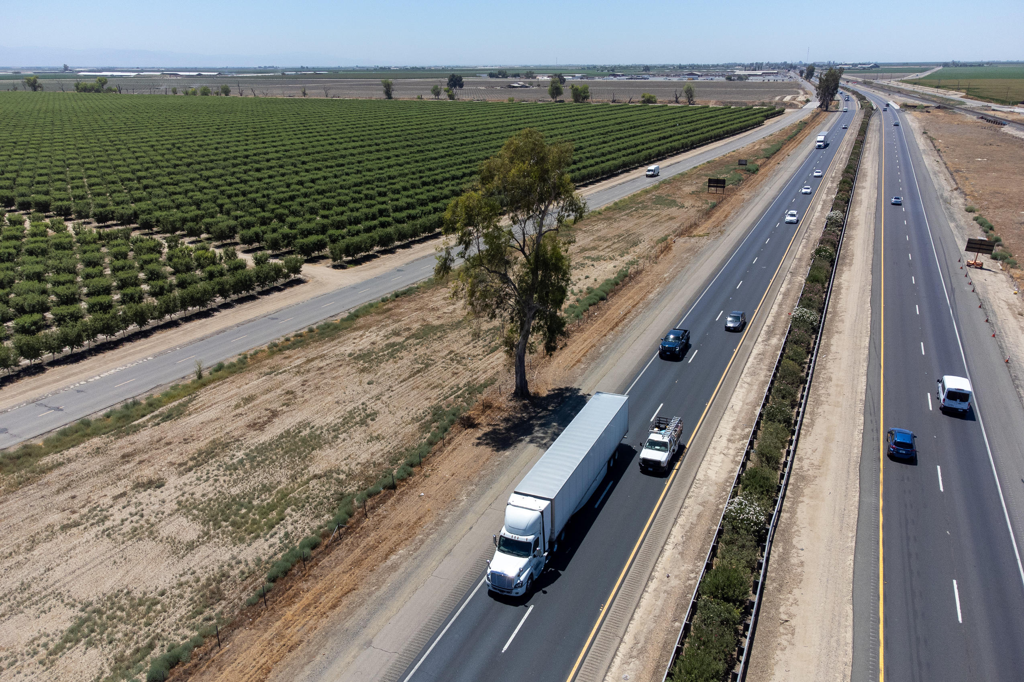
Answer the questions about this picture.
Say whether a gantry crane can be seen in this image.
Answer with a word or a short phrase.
No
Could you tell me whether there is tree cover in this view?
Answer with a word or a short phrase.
Yes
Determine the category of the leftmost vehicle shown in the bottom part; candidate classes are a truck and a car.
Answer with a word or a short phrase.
truck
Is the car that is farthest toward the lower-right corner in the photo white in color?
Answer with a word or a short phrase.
No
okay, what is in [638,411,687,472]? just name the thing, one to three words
truck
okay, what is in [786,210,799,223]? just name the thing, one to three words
vehicle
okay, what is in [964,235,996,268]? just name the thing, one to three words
trailer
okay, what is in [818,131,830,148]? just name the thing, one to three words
vehicle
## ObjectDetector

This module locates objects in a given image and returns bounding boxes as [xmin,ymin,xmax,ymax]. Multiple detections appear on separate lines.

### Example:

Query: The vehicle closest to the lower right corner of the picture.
[888,426,920,460]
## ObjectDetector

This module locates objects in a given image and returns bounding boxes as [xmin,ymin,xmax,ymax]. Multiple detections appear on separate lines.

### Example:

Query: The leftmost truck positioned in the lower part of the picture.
[484,390,635,600]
